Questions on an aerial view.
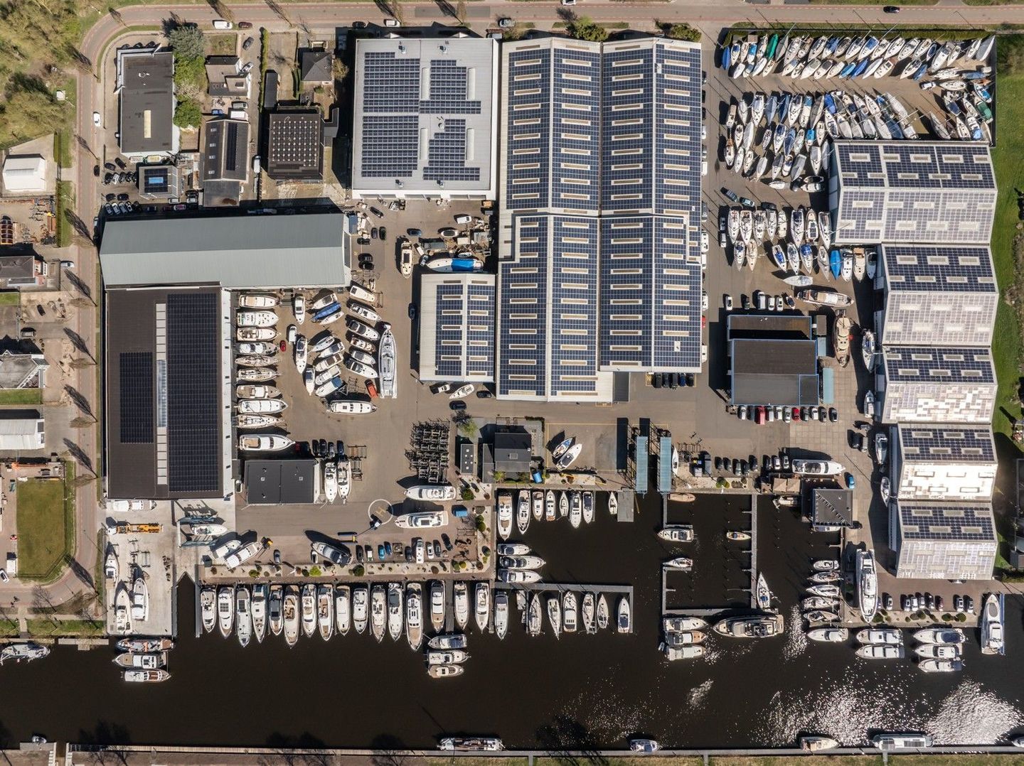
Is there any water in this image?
Yes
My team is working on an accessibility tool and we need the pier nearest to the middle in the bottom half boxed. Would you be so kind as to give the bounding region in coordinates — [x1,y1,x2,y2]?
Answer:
[618,491,634,522]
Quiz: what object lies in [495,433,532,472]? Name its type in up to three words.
building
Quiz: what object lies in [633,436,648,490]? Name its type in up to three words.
shed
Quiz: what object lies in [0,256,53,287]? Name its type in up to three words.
house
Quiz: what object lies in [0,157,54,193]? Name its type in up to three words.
barn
